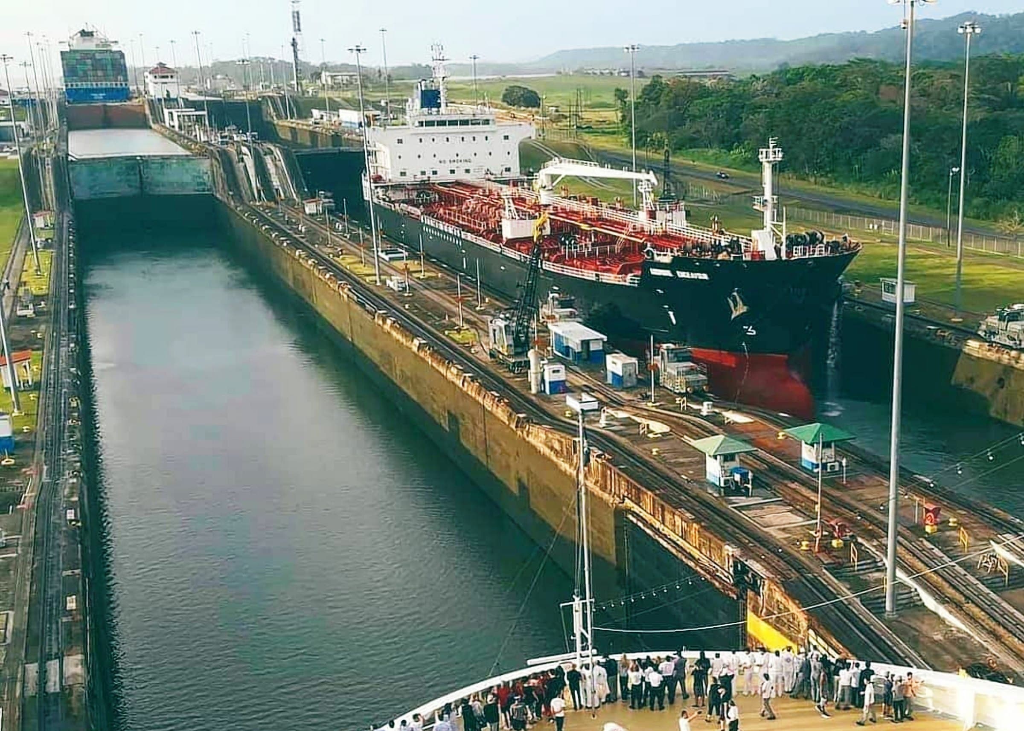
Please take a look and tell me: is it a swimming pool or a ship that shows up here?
ship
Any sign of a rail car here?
Yes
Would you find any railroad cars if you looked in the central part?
Yes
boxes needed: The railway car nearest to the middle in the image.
[535,292,576,320]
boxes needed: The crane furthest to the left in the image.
[500,215,552,366]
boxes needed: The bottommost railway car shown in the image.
[648,349,714,392]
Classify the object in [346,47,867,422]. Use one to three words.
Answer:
ship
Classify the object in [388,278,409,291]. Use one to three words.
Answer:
vehicle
